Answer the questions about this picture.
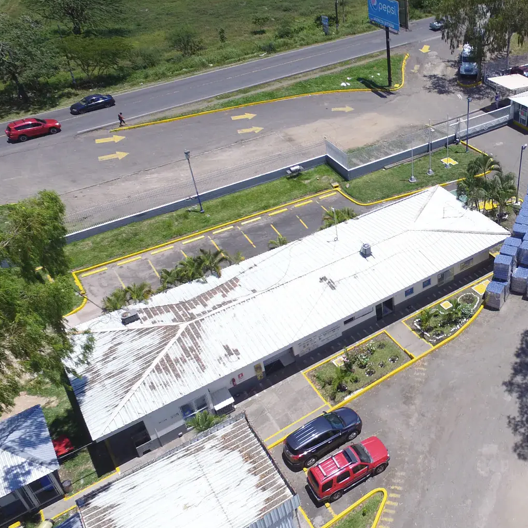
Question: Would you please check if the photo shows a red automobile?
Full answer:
Yes, a red automobile is visible in the scene.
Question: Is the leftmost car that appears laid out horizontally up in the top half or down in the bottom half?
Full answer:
The leftmost car that appears laid out horizontally sits in the top half of the picture.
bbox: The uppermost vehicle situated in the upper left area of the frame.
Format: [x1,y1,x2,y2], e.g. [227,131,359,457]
[64,92,117,116]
